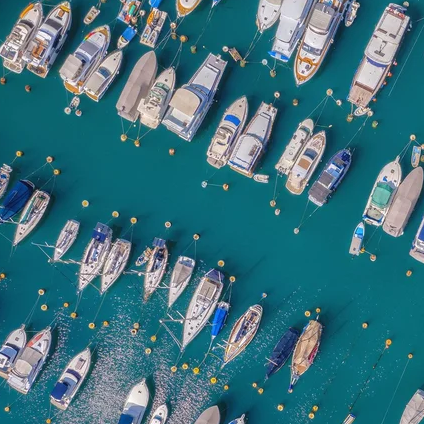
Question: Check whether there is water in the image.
Yes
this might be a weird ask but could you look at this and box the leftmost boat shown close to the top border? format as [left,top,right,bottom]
[2,0,44,73]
